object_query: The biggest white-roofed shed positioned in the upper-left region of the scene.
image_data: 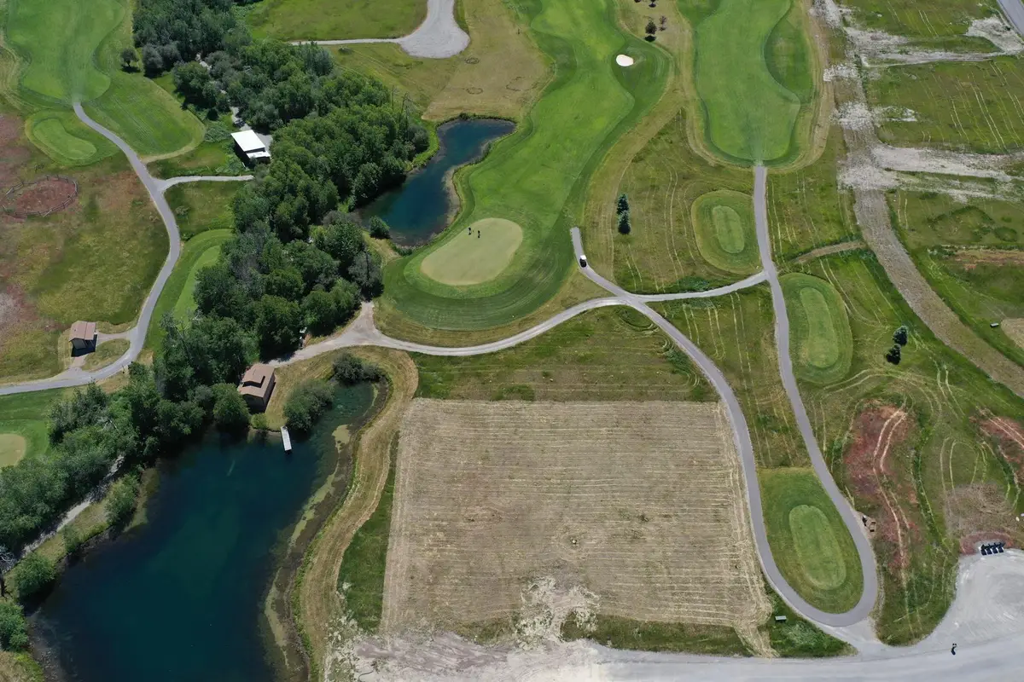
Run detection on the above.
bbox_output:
[233,129,266,171]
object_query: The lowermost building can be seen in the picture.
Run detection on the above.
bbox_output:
[240,364,280,412]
